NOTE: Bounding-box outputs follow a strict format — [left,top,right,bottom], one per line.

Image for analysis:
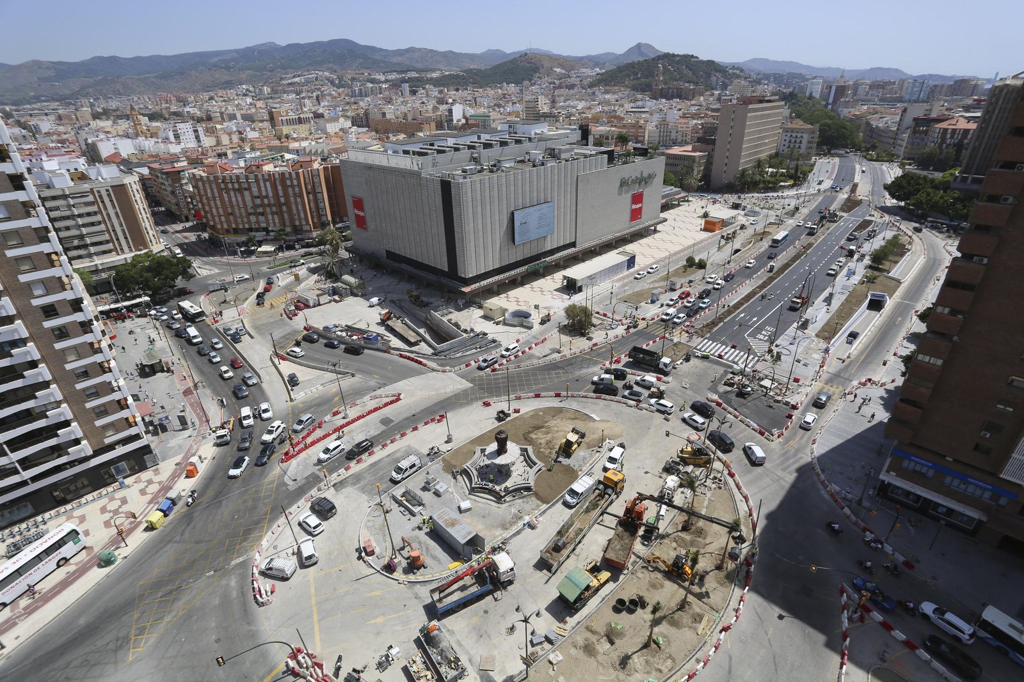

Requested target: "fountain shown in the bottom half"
[457,424,551,502]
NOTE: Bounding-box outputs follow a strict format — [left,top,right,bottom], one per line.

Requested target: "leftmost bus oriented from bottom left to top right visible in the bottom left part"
[0,522,85,607]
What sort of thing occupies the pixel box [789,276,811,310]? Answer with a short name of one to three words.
truck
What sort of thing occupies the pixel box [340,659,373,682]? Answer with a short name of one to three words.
work vehicle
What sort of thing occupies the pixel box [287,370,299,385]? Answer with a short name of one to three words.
vehicle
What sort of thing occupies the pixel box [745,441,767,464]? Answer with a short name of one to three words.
vehicle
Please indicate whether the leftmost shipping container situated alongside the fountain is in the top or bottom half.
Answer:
bottom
